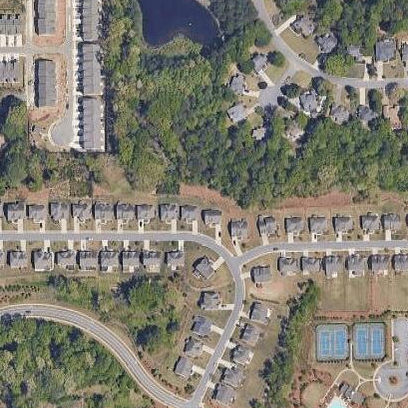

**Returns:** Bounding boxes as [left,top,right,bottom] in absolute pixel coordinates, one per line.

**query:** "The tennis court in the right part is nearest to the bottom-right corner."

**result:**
[353,322,387,360]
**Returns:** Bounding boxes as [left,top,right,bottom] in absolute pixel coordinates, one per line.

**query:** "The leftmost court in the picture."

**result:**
[316,323,349,361]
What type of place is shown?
residential area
